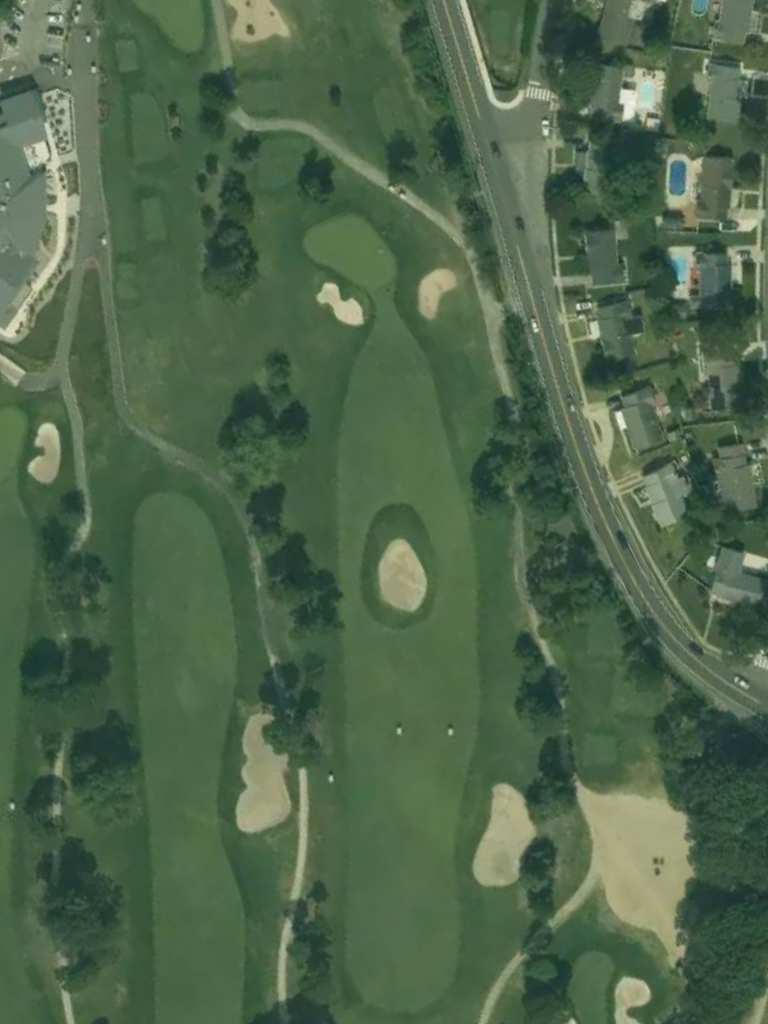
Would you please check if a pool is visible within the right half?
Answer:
Yes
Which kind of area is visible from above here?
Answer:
golf course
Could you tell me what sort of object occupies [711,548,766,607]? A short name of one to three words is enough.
house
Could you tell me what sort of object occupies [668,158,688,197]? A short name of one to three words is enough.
swimming pool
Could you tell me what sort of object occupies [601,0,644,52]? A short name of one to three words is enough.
house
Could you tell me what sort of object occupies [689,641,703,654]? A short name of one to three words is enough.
vehicle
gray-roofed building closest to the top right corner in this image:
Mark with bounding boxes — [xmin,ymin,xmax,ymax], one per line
[710,0,754,43]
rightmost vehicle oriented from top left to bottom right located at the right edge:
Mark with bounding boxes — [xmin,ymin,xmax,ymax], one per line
[733,676,749,689]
